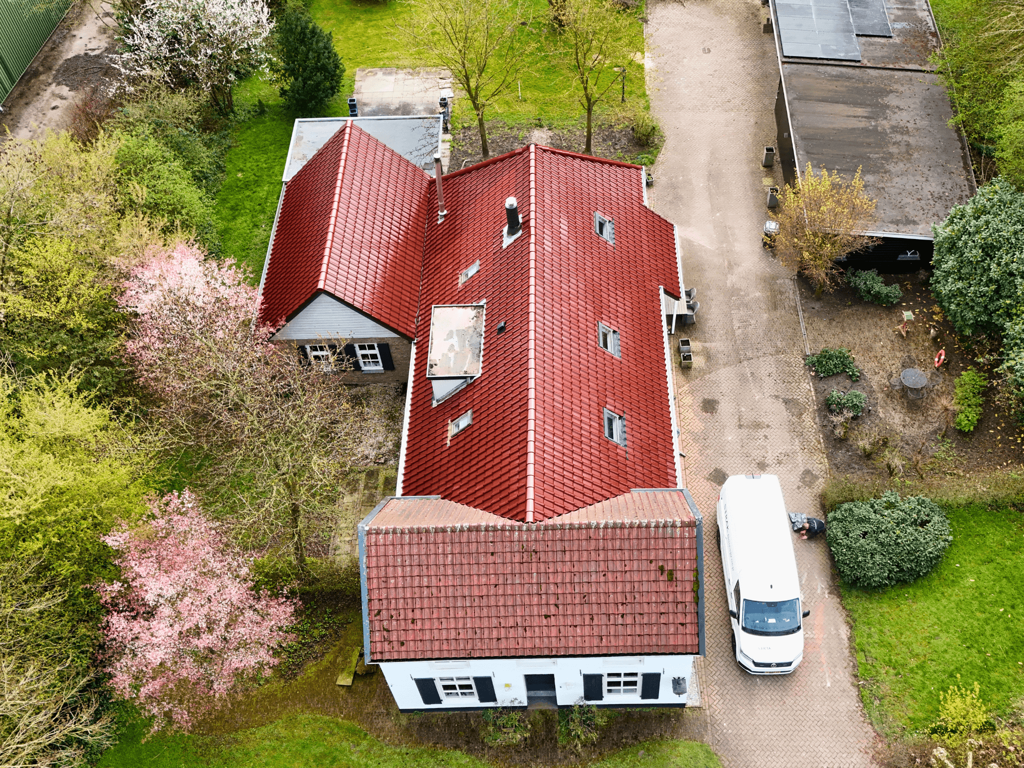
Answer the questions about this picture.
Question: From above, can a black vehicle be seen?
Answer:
No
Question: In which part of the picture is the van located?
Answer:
bottom right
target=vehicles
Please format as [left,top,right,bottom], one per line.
[712,470,812,670]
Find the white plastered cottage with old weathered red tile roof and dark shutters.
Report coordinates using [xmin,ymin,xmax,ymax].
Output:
[357,483,705,719]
